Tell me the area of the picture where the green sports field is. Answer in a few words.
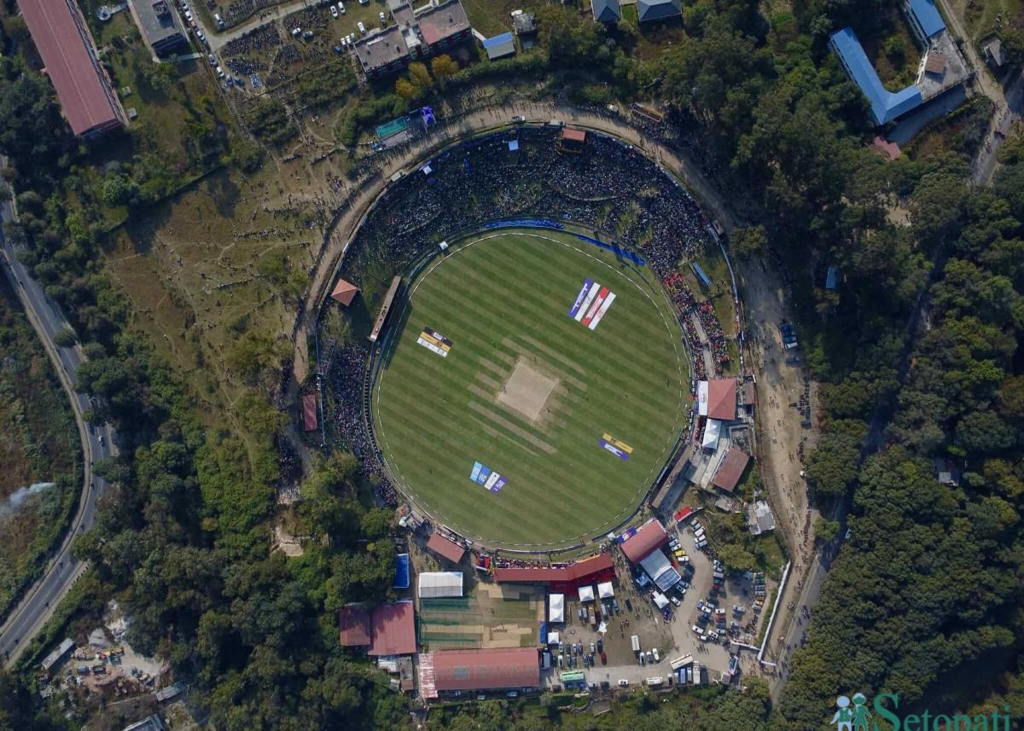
center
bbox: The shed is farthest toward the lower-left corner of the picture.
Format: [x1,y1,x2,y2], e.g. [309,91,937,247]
[41,635,78,670]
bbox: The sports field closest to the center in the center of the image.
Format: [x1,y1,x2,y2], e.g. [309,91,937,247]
[369,230,696,554]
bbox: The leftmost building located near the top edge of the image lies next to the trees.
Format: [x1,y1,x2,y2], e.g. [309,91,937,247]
[18,0,125,140]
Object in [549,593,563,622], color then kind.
white tent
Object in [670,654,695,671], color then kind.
white vehicle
